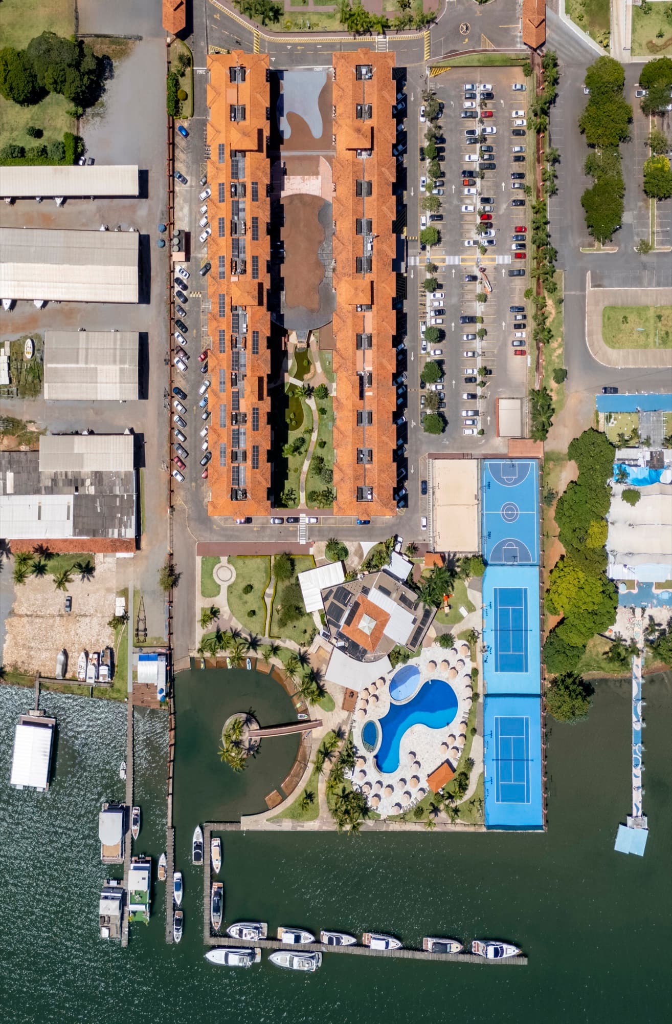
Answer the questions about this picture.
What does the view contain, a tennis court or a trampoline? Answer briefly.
tennis court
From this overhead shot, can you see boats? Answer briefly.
Yes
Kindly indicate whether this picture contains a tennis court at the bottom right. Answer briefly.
Yes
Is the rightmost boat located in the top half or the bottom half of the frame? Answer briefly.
bottom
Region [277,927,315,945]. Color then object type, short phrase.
white boat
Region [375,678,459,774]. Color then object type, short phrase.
blue swimming pool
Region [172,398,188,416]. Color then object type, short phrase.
white vehicle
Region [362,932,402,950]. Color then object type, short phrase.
white boat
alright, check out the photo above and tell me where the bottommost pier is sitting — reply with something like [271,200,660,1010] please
[210,936,528,964]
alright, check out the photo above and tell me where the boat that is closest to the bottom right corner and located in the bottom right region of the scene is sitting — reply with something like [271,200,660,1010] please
[471,939,522,959]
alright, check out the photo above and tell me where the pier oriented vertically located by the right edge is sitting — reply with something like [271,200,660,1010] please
[613,653,648,856]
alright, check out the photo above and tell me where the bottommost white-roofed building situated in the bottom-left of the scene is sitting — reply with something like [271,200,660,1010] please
[10,709,60,790]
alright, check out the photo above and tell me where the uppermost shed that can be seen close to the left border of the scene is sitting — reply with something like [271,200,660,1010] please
[0,165,141,201]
